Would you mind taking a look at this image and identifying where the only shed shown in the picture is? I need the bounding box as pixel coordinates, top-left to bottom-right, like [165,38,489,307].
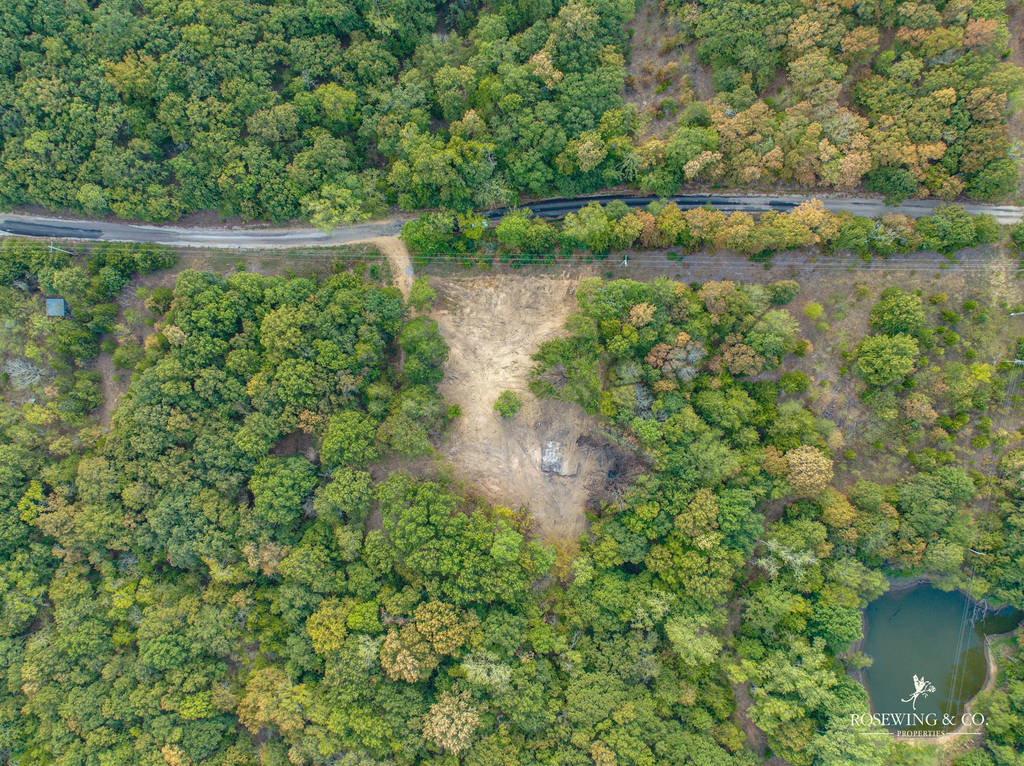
[47,298,72,317]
